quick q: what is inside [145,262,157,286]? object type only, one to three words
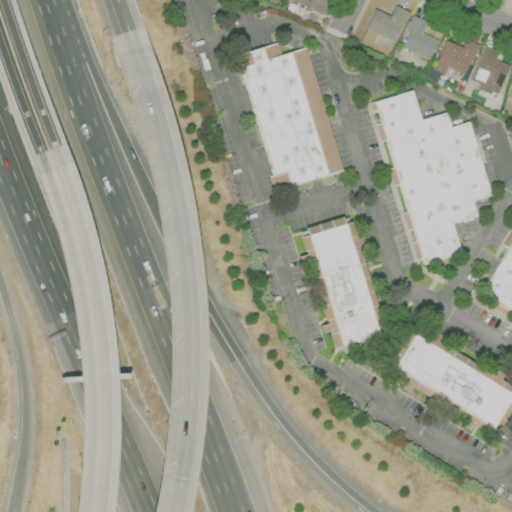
vehicle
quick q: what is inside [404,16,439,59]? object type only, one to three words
house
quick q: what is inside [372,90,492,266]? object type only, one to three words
building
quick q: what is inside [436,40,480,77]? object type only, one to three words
house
